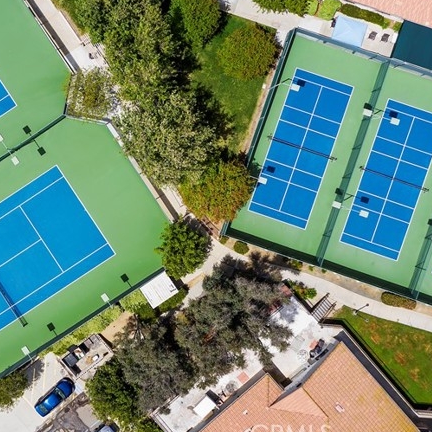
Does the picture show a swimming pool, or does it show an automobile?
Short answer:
automobile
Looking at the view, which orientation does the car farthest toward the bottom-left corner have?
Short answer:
on a diagonal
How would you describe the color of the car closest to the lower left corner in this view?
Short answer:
blue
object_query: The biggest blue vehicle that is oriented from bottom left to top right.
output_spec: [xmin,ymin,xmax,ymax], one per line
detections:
[34,378,77,416]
